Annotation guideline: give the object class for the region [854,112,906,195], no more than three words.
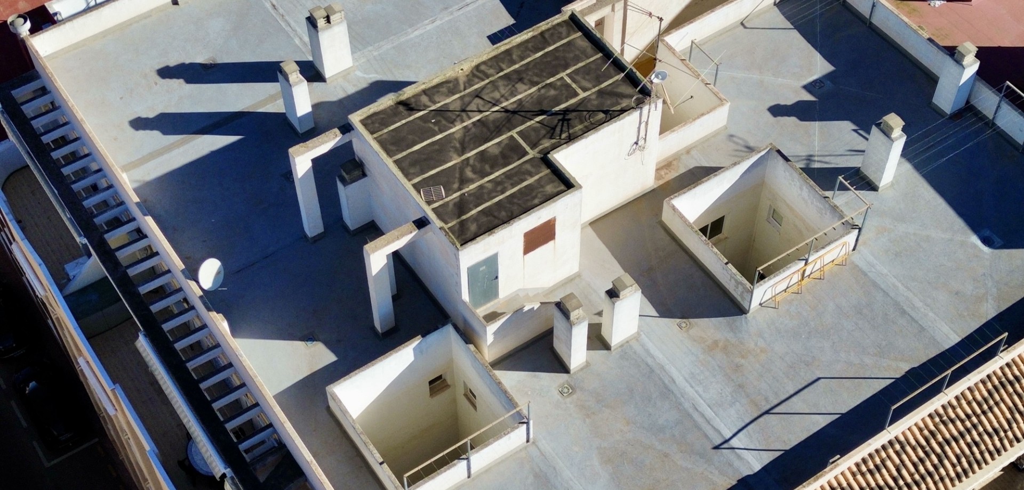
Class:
chimney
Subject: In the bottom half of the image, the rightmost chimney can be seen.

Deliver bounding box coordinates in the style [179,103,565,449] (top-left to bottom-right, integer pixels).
[595,272,643,355]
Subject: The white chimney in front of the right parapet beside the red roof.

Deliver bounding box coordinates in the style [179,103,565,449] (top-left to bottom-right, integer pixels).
[926,41,979,122]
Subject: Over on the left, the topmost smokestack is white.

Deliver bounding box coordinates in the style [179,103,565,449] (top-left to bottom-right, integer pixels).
[306,0,358,86]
